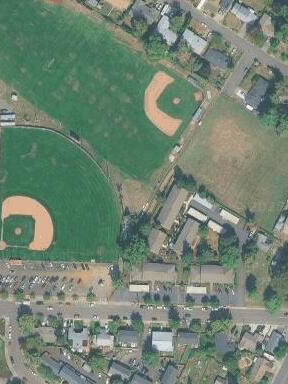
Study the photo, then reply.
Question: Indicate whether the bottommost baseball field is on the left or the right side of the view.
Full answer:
You can find the bottommost baseball field on the left side of the picture.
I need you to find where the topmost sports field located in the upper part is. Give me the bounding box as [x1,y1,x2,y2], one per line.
[0,0,207,187]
